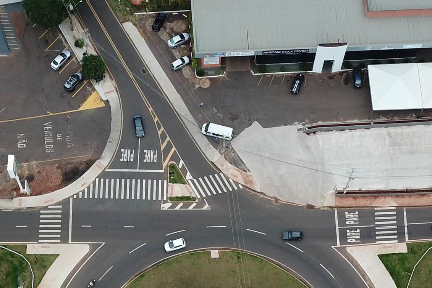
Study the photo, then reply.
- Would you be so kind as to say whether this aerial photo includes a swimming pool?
No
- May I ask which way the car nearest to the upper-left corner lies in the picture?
at an angle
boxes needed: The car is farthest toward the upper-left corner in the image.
[49,48,71,69]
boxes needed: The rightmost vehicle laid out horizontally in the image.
[280,229,304,241]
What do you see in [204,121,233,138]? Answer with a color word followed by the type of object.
white vehicle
